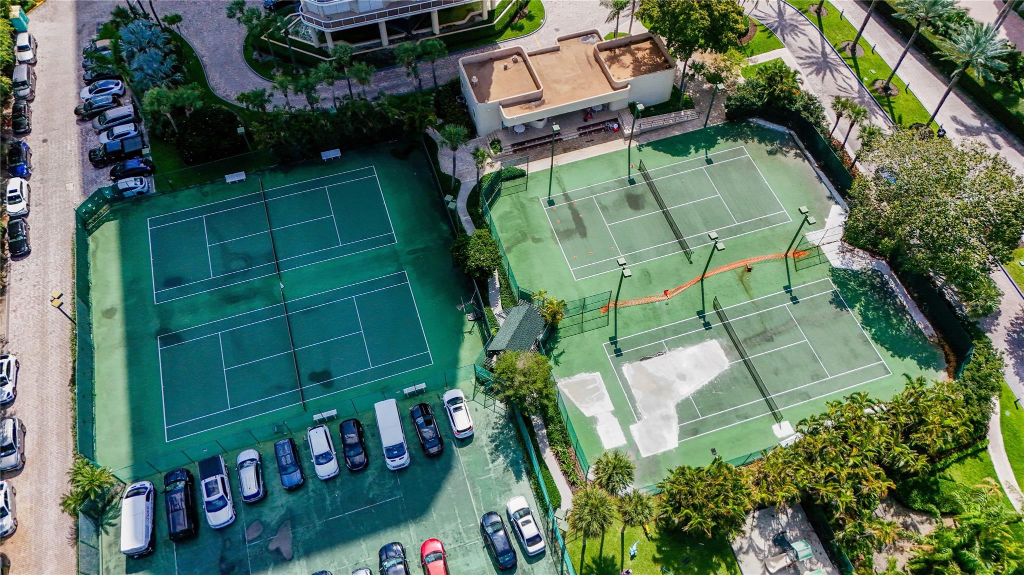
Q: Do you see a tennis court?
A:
Yes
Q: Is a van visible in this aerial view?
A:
Yes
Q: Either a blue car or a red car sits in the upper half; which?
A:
blue car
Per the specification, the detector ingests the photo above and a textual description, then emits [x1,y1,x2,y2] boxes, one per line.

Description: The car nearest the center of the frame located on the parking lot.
[443,389,476,443]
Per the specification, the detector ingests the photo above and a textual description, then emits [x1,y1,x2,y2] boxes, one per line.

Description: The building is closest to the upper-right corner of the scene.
[460,29,676,137]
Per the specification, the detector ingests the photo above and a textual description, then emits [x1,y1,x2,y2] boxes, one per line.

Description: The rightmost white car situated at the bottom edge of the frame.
[507,497,546,559]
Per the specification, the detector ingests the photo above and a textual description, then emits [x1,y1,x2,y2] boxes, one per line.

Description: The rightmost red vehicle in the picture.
[421,536,453,575]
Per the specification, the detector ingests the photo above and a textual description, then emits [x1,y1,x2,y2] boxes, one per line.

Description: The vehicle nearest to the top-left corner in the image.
[13,30,39,64]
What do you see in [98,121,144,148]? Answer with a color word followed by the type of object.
blue car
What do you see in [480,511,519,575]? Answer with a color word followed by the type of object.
blue car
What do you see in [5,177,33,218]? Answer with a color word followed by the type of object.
white car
